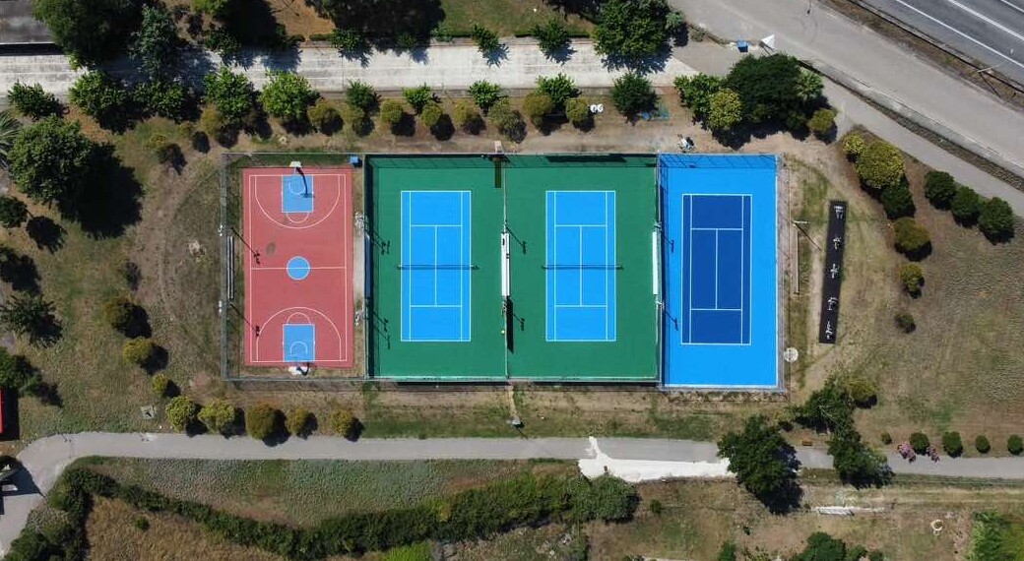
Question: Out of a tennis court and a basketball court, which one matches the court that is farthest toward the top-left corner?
basketball court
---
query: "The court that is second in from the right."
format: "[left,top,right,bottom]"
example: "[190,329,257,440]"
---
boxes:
[507,158,657,378]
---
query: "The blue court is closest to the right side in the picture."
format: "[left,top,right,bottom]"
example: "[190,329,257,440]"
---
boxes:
[662,157,776,386]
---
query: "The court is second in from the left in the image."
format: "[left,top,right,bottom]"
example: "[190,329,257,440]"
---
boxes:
[368,158,505,378]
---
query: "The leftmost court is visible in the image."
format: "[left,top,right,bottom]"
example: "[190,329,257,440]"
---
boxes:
[243,167,355,368]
